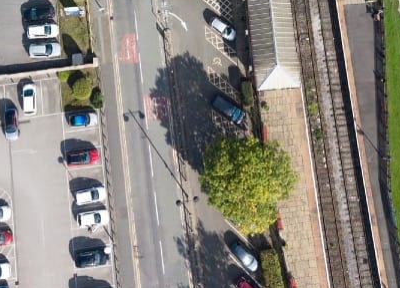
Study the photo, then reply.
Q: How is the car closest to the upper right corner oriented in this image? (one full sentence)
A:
I'd say the car closest to the upper right corner is aligned at an angle in the picture.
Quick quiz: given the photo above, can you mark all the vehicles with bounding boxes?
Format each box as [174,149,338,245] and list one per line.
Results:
[0,228,16,248]
[235,273,258,288]
[0,262,12,280]
[209,13,239,43]
[210,93,248,126]
[72,186,108,205]
[19,80,39,120]
[24,21,63,40]
[0,103,20,138]
[71,246,113,269]
[25,40,64,58]
[21,4,60,22]
[76,210,111,233]
[228,237,258,275]
[66,110,100,127]
[0,205,12,222]
[62,147,103,167]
